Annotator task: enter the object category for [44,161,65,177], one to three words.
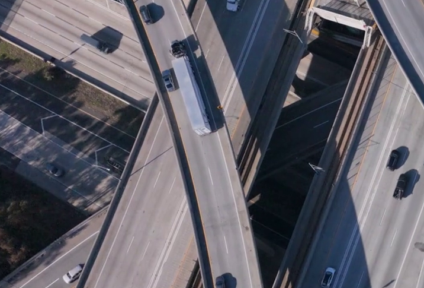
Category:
car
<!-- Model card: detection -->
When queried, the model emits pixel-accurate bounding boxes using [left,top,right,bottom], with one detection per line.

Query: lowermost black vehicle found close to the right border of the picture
[392,172,408,199]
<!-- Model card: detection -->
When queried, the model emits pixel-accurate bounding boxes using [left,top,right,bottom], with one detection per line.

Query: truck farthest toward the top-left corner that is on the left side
[81,33,110,54]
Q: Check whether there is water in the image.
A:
No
